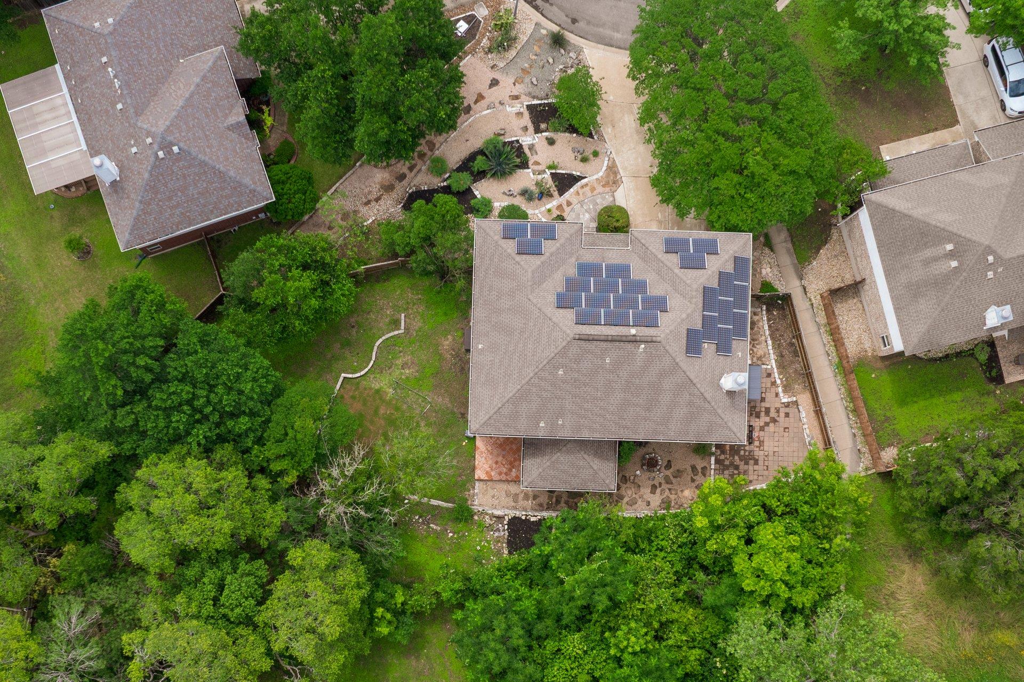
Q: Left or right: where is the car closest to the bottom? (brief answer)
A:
right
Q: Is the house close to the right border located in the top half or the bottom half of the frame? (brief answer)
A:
top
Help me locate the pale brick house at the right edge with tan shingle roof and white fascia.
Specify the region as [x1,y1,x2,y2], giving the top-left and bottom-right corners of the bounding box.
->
[842,115,1024,356]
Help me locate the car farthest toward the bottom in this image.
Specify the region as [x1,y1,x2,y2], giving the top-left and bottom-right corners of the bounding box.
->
[983,35,1024,117]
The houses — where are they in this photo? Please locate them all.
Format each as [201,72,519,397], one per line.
[467,216,754,493]
[842,115,1024,356]
[40,0,277,260]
